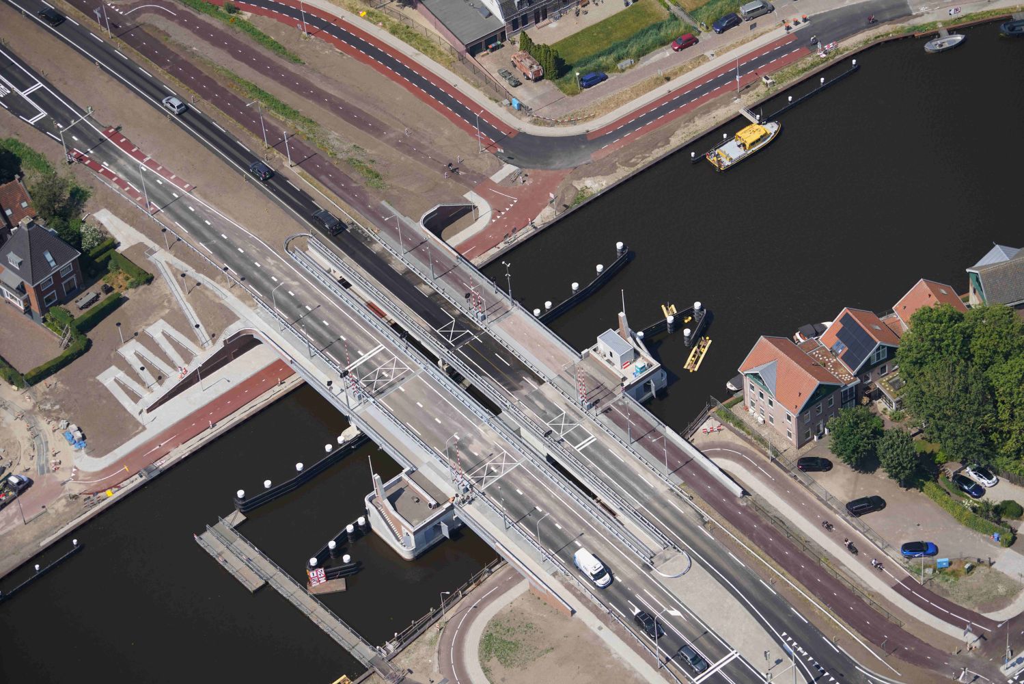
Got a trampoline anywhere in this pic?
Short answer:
No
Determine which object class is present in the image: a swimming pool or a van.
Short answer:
van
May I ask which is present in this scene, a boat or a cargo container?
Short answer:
boat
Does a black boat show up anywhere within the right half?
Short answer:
Yes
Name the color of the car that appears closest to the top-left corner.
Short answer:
black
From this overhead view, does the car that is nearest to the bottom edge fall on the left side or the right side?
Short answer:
right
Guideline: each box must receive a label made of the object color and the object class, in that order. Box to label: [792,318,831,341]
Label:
black boat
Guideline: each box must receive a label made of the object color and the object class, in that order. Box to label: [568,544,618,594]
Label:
white van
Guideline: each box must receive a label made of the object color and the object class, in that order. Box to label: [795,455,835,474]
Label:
black car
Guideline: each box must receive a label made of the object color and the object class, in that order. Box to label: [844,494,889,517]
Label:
black car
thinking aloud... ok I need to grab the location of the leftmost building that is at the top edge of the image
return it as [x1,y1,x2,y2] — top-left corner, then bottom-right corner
[432,0,506,57]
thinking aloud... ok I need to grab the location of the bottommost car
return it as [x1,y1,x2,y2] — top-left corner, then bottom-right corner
[671,641,714,675]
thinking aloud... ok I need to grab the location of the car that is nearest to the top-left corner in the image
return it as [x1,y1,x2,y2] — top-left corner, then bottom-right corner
[34,4,68,29]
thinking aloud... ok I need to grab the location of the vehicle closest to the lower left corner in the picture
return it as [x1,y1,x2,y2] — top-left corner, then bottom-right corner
[0,471,34,507]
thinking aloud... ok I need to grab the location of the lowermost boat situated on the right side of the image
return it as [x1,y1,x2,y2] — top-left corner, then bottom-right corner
[722,368,741,392]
